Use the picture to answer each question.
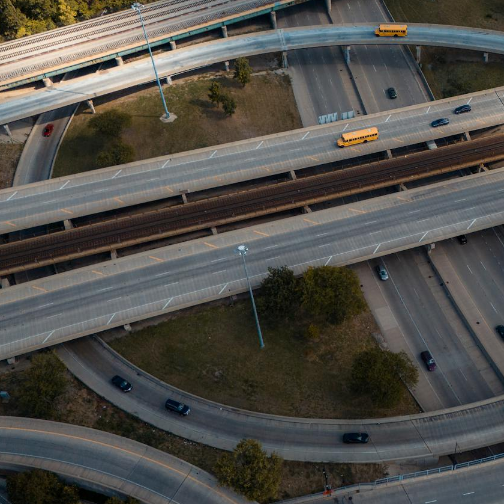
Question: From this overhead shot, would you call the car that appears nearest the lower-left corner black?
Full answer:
Yes, the car that appears nearest the lower-left corner is black.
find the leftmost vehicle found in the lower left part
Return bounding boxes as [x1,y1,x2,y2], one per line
[108,371,132,392]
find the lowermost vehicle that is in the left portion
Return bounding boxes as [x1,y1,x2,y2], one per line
[164,396,192,416]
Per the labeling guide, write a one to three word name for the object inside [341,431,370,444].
vehicle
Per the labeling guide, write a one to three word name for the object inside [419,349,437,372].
car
